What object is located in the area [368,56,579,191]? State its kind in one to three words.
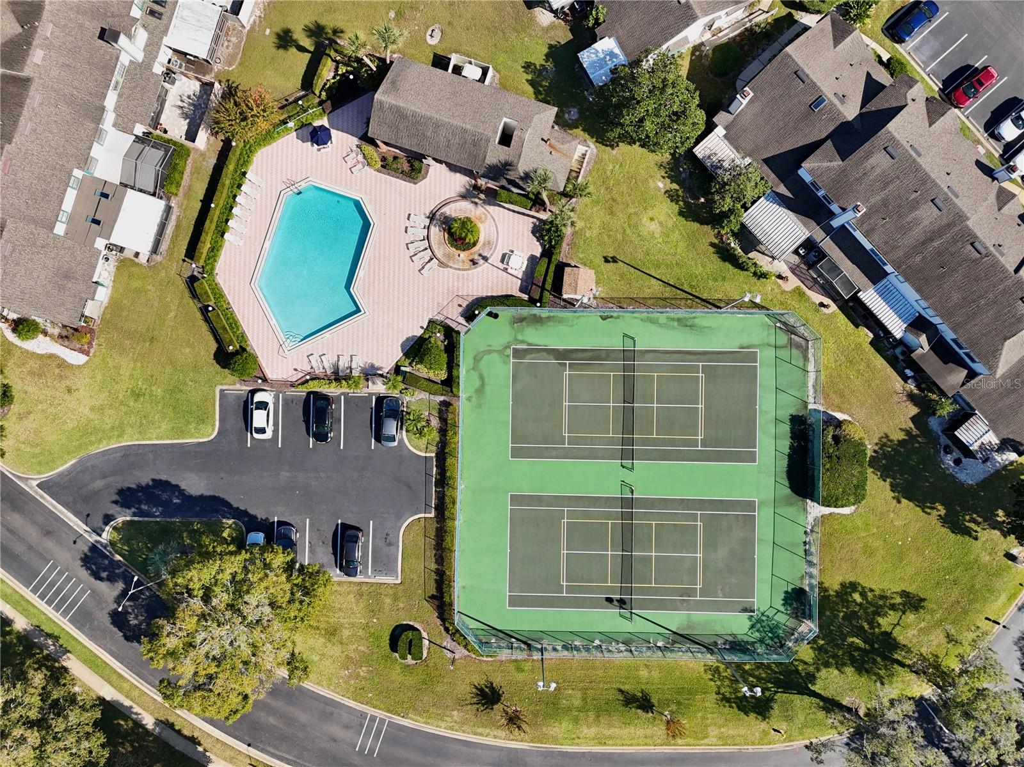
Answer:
building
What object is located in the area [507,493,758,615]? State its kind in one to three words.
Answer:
tennis court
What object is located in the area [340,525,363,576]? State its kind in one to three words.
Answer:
car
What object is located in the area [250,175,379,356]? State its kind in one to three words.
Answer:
swimming pool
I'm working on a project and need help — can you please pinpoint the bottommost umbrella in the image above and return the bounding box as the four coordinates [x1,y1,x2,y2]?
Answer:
[307,122,332,147]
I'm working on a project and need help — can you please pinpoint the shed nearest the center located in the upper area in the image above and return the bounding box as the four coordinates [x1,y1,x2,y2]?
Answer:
[562,267,596,298]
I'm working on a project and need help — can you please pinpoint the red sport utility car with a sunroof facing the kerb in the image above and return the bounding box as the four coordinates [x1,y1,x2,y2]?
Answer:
[949,64,1000,109]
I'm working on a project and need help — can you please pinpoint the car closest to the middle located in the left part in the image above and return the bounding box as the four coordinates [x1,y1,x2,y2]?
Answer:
[379,395,402,447]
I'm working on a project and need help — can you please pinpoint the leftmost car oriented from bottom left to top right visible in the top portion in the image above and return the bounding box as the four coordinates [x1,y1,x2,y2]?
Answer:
[893,0,940,43]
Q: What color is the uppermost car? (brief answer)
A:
blue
